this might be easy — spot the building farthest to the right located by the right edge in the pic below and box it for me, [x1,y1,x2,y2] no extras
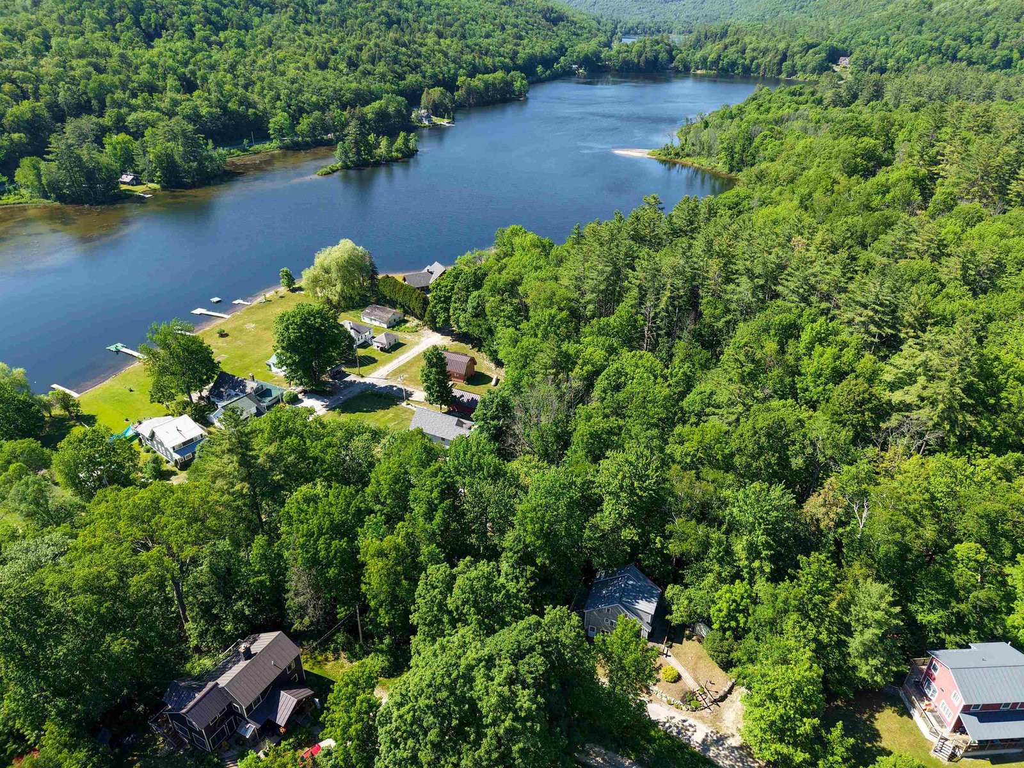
[895,639,1024,761]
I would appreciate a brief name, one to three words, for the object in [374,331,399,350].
shed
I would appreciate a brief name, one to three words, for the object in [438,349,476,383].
barn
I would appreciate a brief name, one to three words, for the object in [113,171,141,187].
building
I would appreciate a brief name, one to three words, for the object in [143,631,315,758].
house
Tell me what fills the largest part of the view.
trees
